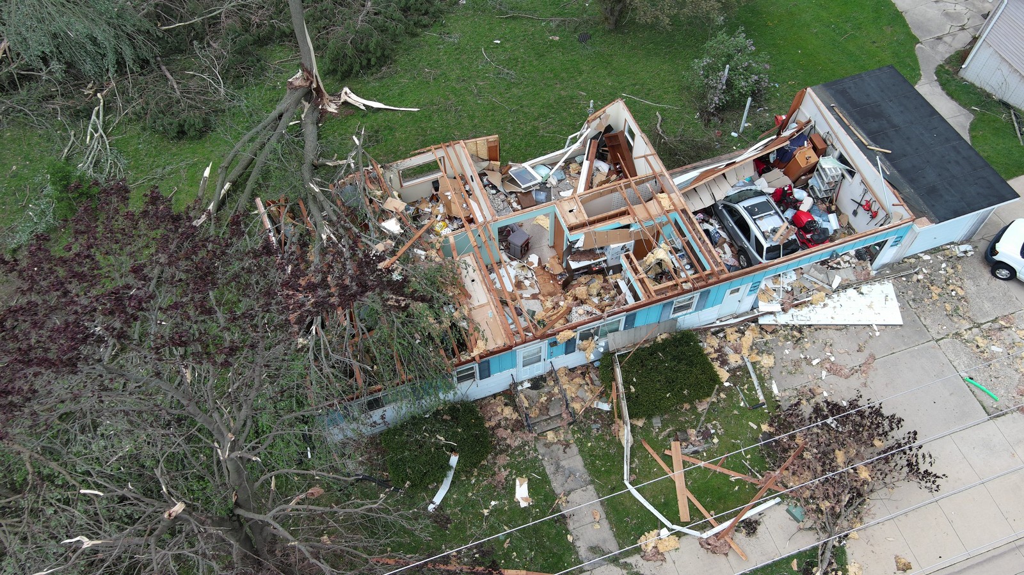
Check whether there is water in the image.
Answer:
No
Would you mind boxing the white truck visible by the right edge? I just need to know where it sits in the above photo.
[978,224,1024,288]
